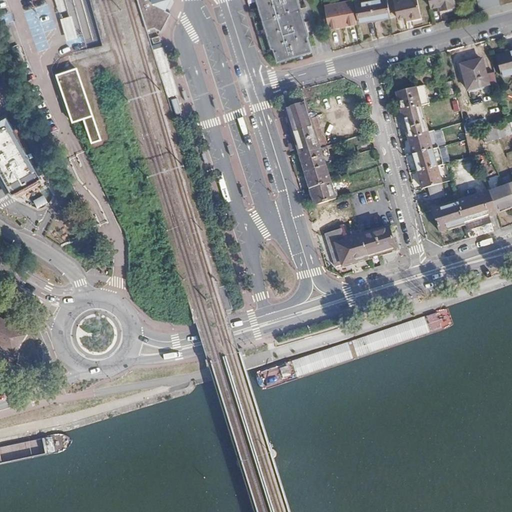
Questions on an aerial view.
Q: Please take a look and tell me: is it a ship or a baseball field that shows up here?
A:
ship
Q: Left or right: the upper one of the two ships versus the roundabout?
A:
right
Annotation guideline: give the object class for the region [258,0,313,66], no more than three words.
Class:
building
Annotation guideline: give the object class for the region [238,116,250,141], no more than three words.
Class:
vehicle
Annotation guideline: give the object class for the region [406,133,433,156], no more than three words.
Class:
house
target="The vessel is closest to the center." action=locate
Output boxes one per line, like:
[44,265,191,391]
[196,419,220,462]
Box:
[256,312,454,386]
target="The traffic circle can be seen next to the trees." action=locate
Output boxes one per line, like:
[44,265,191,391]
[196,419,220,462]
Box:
[52,288,143,379]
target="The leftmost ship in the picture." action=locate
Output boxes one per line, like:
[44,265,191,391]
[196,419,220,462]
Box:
[0,435,72,465]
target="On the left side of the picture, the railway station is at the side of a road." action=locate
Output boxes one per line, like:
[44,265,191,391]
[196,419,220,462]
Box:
[65,0,98,48]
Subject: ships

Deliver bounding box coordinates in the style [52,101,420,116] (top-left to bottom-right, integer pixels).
[256,312,454,386]
[0,435,72,465]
